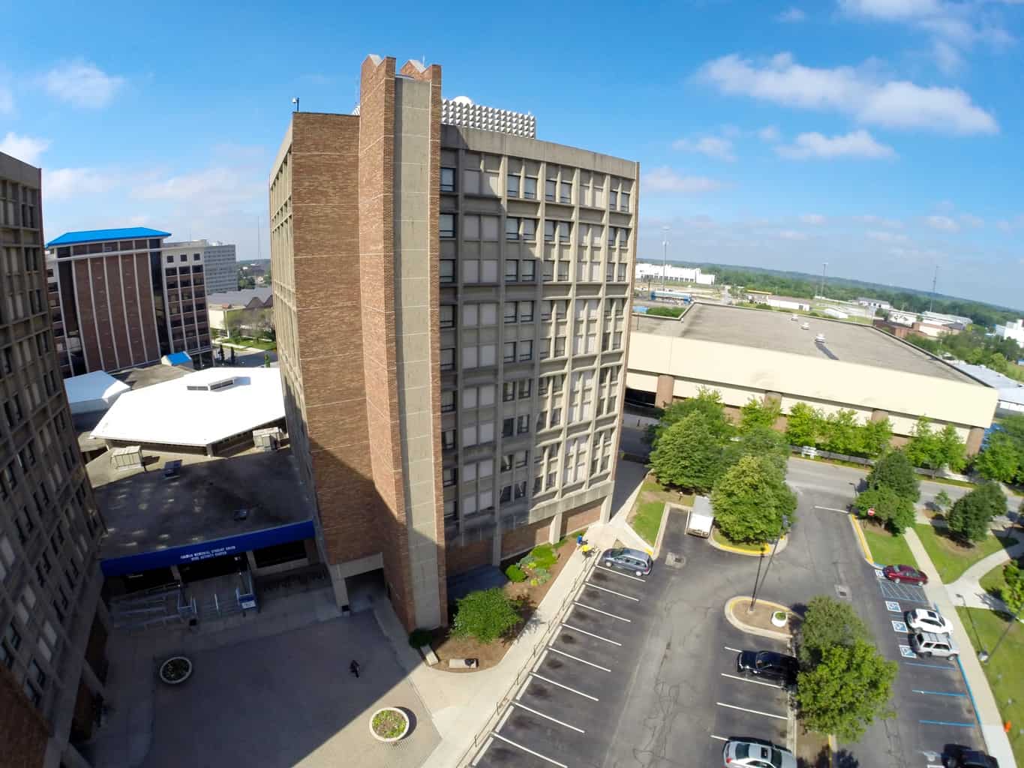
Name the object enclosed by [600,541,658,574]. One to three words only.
vehicle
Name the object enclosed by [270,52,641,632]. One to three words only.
building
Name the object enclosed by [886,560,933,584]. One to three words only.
car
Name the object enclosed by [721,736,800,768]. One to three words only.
car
